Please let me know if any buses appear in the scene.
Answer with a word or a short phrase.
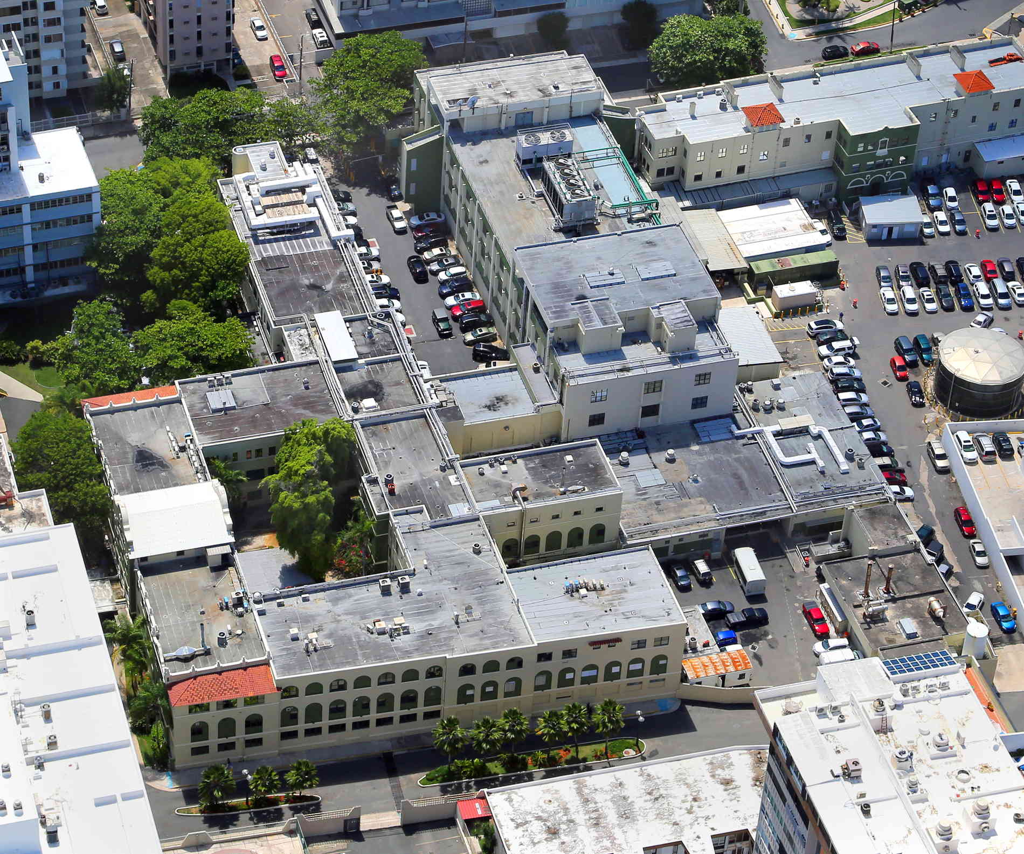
Yes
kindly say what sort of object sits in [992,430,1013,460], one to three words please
car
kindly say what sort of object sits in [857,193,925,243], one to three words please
building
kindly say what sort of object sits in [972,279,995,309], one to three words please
vehicle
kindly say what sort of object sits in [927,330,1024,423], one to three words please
water tank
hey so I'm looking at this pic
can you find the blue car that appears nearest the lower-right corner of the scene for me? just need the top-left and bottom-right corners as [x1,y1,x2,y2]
[992,603,1014,635]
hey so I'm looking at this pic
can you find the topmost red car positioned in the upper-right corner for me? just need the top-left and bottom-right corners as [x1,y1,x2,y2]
[849,42,881,57]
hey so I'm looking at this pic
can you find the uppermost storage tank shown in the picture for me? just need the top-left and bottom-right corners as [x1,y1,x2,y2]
[768,274,825,309]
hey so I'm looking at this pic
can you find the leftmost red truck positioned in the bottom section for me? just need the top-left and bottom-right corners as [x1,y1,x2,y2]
[803,602,829,640]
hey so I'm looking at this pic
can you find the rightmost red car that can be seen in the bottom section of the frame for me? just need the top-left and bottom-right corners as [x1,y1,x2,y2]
[954,506,975,538]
